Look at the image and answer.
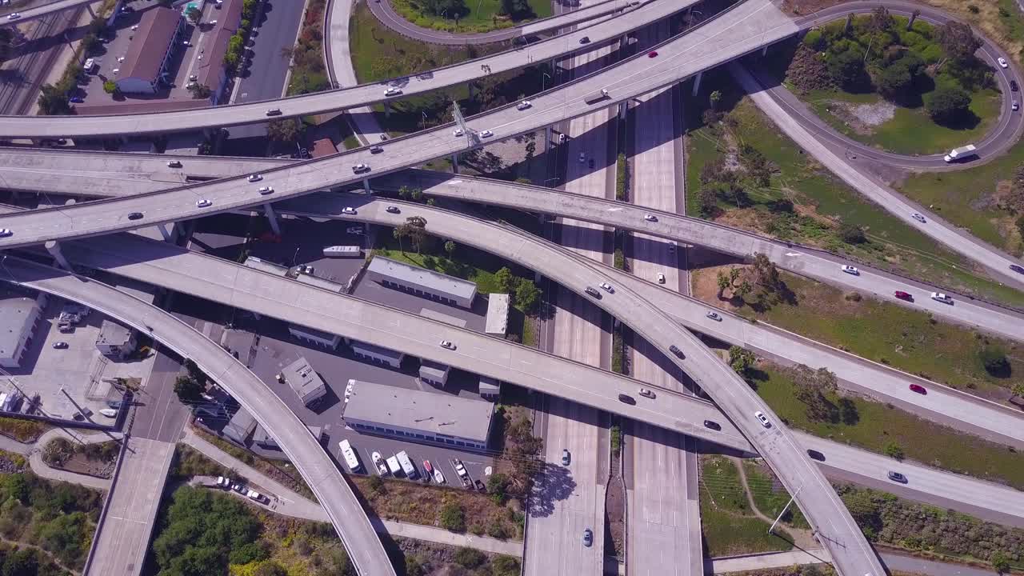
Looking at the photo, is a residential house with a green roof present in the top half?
No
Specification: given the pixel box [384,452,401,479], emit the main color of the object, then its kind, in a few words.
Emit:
white camper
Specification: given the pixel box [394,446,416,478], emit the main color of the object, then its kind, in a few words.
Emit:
white camper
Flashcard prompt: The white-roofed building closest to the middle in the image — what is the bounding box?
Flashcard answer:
[486,293,508,338]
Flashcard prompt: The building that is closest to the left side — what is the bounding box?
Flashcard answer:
[0,296,43,365]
